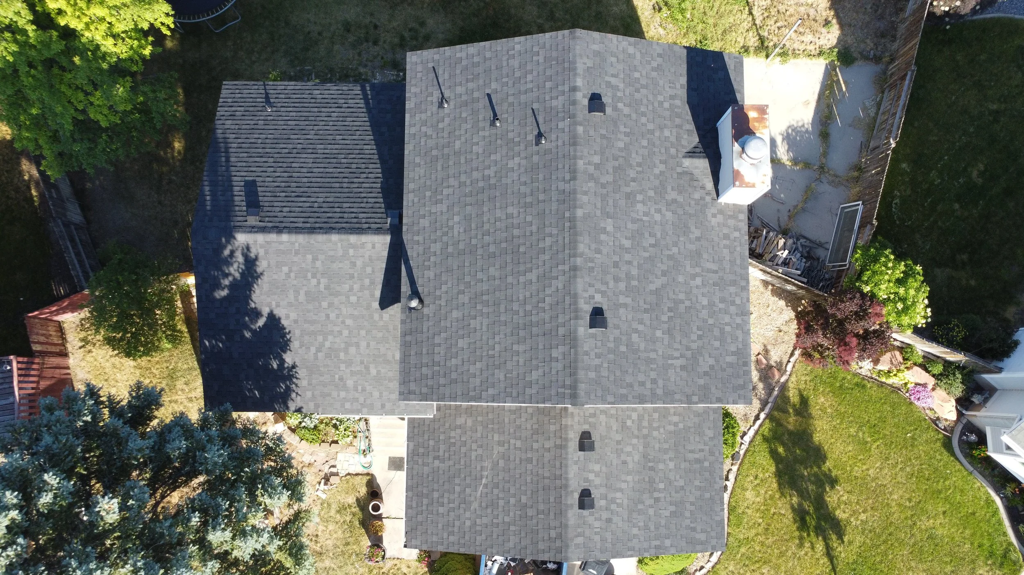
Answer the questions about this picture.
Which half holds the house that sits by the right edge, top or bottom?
bottom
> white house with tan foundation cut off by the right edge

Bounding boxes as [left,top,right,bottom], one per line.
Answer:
[959,359,1024,484]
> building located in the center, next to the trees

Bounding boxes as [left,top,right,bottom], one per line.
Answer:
[190,28,773,562]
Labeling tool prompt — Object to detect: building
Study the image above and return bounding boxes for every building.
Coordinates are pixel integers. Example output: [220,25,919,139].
[959,359,1024,484]
[190,28,773,562]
